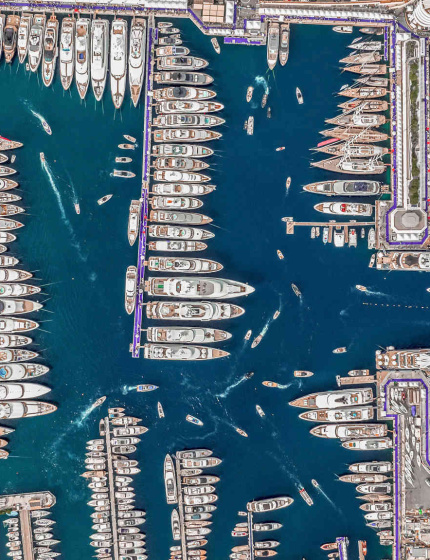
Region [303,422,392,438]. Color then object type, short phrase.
white boat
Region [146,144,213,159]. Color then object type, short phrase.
white boat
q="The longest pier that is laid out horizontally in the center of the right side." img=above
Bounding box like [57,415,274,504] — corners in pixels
[286,221,375,234]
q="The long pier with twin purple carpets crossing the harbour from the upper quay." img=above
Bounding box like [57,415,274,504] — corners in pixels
[132,18,158,358]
